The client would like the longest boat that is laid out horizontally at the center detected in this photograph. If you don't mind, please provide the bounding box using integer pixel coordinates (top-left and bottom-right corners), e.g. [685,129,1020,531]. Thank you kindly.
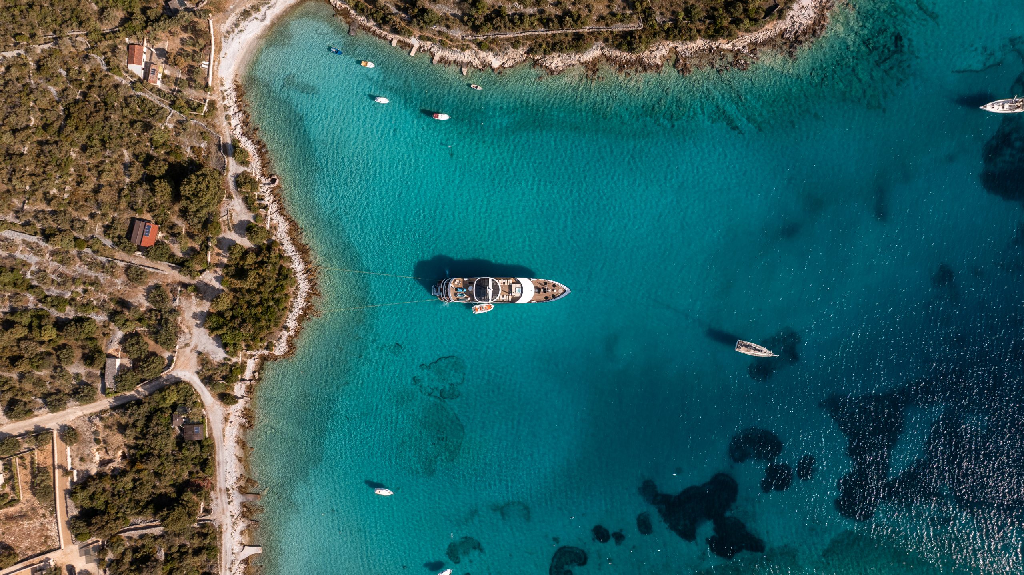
[432,275,571,303]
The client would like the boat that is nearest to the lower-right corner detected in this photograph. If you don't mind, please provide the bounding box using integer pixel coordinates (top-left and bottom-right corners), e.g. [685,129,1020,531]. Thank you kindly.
[735,342,773,357]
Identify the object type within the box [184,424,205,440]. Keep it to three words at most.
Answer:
house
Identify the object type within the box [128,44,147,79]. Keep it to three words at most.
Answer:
house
